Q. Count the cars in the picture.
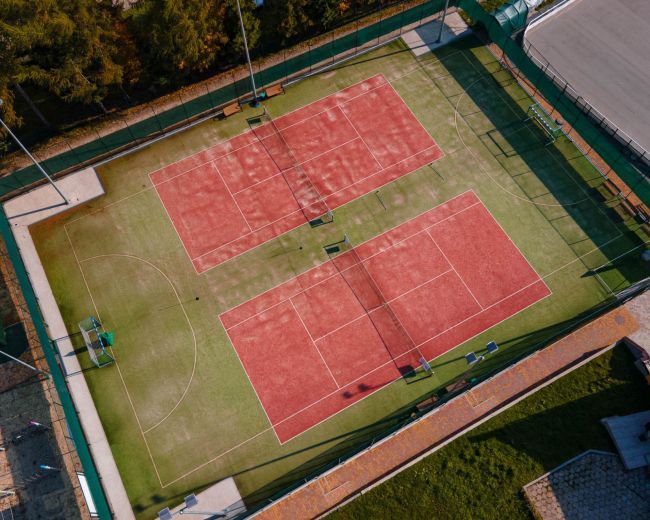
0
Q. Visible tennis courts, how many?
two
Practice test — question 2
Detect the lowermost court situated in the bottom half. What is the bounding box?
[219,190,551,443]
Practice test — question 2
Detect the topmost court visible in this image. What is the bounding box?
[150,74,444,273]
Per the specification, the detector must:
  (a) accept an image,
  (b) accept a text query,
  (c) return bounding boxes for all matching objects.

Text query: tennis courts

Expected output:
[219,190,551,443]
[150,74,444,273]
